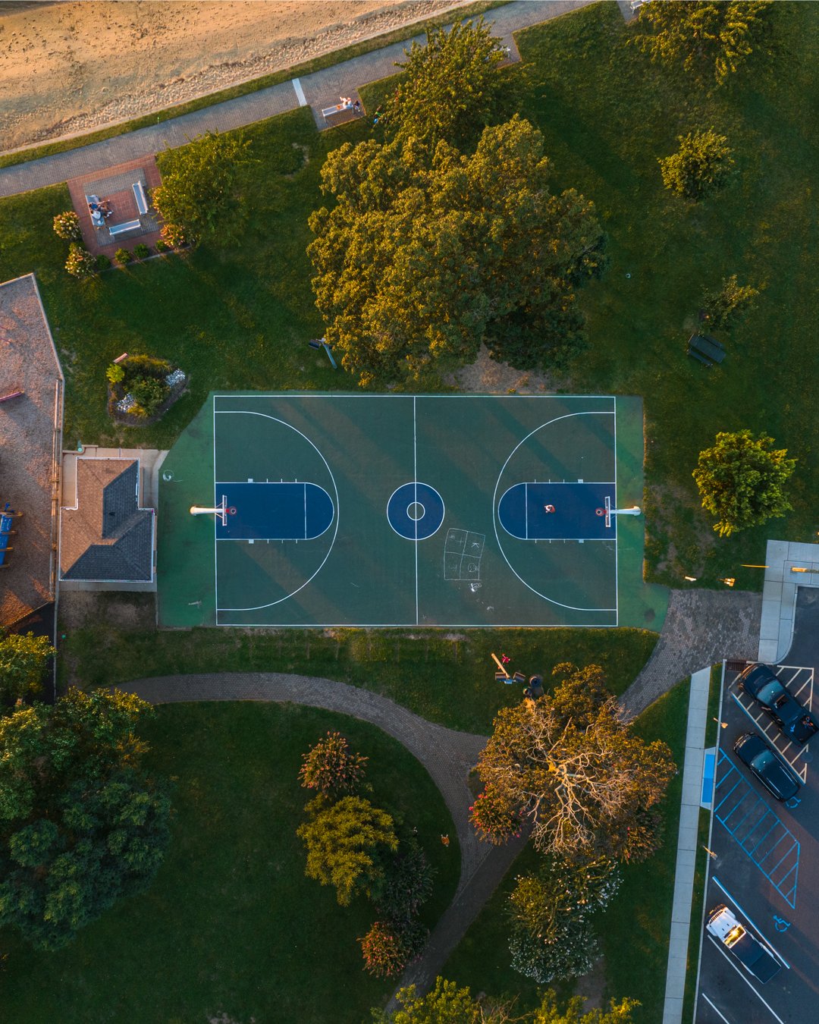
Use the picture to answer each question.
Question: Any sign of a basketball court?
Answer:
Yes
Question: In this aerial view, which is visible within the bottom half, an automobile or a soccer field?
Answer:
automobile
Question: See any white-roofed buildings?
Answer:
No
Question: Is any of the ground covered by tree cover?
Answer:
Yes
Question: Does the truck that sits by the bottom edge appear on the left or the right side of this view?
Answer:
right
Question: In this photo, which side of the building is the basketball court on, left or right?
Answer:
on the right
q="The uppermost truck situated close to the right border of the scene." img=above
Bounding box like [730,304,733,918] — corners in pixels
[740,663,819,749]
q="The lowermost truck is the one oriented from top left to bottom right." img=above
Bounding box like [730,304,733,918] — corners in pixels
[707,902,782,984]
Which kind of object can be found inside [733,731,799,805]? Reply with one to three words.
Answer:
car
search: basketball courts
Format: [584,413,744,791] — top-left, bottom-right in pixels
[158,392,670,632]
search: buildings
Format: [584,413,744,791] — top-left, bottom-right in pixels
[60,457,158,582]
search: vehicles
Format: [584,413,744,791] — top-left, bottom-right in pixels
[707,902,782,984]
[740,663,819,749]
[733,731,799,805]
